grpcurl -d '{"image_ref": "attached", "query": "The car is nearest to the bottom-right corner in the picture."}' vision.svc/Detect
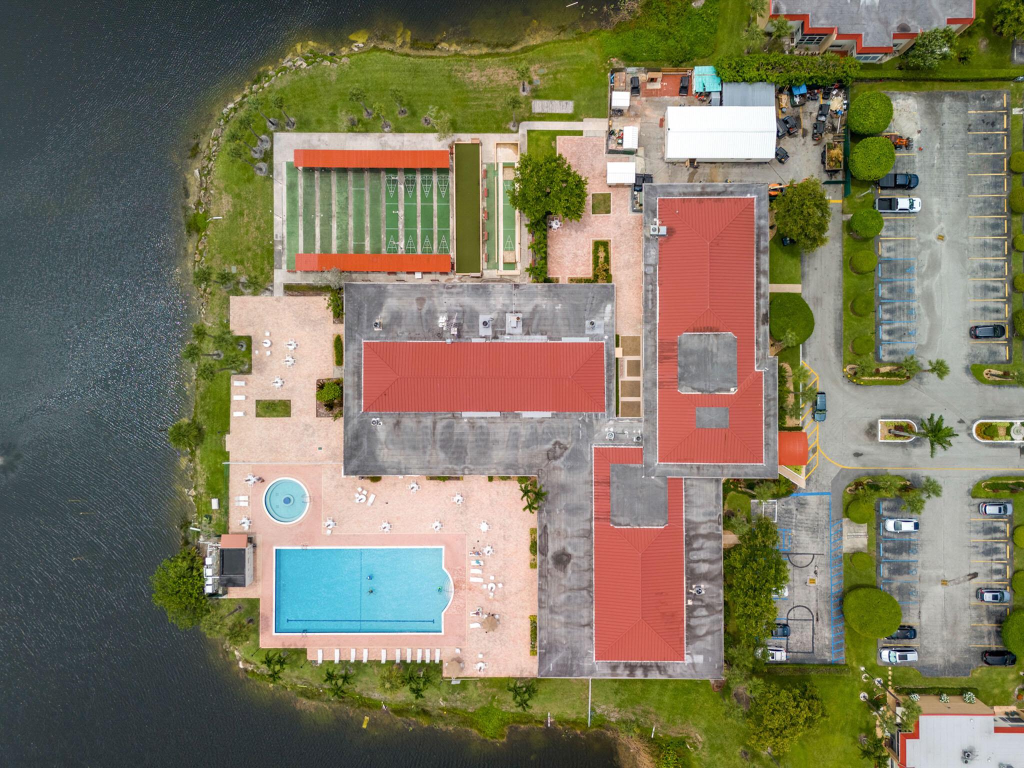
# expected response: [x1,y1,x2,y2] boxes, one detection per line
[980,648,1015,666]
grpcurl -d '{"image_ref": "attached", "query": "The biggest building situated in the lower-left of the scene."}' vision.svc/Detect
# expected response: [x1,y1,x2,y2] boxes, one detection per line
[216,534,254,588]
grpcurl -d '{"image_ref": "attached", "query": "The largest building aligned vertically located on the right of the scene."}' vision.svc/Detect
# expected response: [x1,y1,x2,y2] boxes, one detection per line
[640,183,778,479]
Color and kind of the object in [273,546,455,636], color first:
blue swimming pool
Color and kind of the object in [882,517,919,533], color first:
white car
